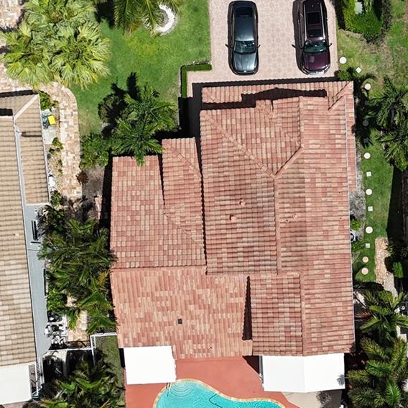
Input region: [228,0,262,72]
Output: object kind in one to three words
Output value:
car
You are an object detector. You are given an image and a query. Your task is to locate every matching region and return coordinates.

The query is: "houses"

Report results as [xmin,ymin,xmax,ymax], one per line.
[110,79,357,360]
[0,93,52,368]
